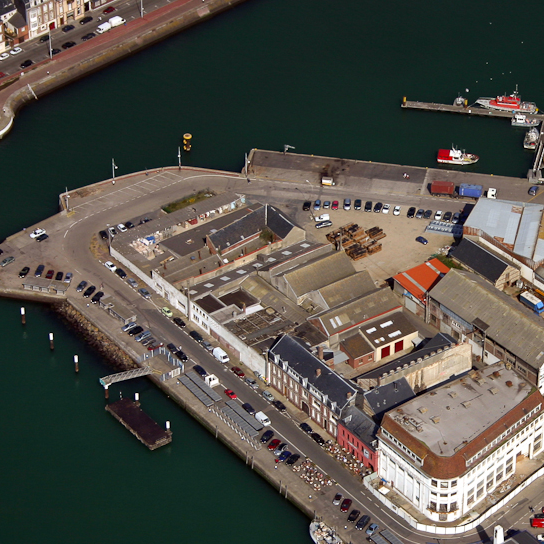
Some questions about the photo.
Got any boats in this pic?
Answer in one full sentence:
Yes, the photo shows a boat.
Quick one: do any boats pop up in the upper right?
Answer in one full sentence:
Yes, looking in the upper right, one can make out a boat.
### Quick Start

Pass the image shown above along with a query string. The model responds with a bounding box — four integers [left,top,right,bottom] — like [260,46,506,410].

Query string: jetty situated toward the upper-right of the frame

[402,101,544,169]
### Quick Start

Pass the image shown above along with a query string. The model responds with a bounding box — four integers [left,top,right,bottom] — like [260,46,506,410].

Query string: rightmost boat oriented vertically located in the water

[525,128,538,150]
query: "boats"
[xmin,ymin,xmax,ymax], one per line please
[511,114,538,127]
[307,520,336,544]
[455,95,463,108]
[525,128,538,150]
[474,88,539,115]
[437,146,481,165]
